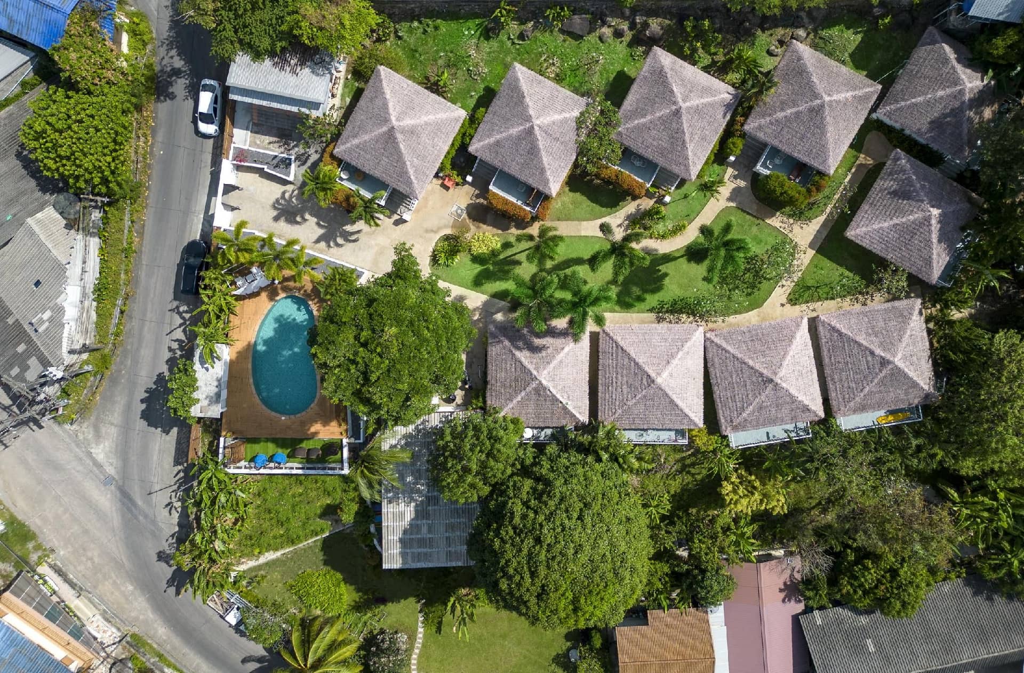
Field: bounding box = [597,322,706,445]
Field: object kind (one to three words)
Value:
house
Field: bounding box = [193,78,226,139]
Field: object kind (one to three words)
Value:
car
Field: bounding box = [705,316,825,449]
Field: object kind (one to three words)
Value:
house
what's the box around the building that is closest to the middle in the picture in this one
[485,324,591,443]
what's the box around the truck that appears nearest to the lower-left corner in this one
[200,593,248,637]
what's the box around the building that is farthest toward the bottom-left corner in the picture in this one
[0,573,113,673]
